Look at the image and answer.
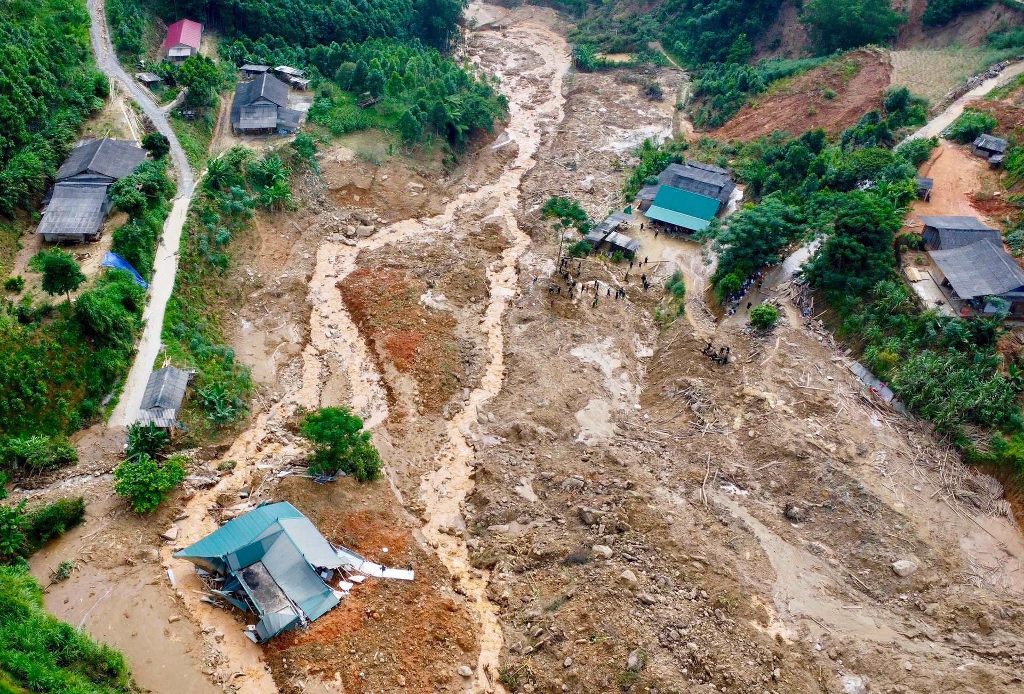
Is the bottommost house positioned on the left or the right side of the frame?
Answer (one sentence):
It is on the left.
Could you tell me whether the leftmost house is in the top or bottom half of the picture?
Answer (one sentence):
Seen from above, the leftmost house lies in the top half of the view.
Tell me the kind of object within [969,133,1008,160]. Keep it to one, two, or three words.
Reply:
shed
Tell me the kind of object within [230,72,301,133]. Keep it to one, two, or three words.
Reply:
house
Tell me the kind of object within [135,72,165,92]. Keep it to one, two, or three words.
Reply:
shed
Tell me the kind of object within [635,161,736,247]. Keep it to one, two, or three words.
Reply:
house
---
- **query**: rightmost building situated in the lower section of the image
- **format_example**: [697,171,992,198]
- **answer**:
[173,501,359,643]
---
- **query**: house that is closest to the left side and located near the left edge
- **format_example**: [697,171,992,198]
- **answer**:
[36,137,146,244]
